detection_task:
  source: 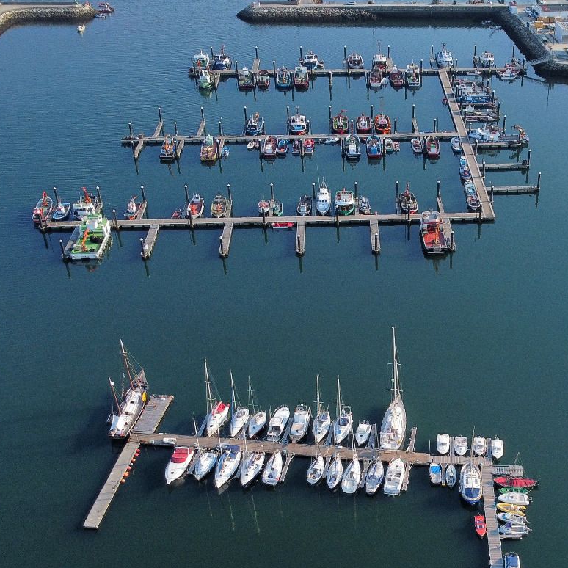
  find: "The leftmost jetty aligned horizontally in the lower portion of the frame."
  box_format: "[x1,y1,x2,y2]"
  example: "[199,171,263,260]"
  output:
[131,433,430,465]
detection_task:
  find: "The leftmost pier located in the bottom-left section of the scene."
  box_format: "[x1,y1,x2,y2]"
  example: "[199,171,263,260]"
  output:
[84,444,140,529]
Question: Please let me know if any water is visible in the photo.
Yes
